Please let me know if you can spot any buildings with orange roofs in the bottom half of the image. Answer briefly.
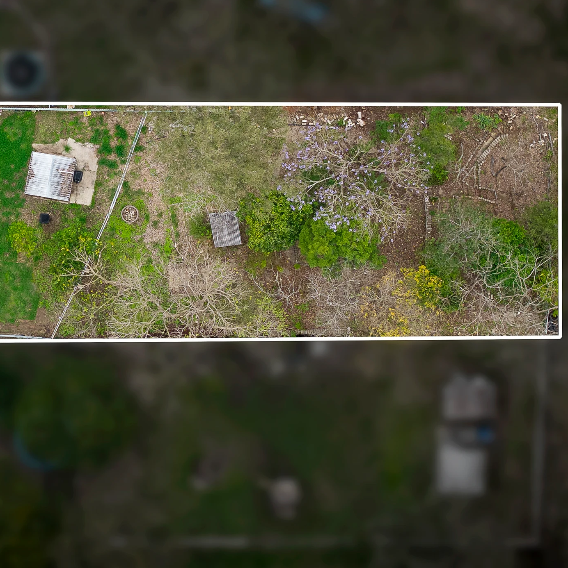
No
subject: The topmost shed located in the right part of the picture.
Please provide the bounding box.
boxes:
[438,379,497,422]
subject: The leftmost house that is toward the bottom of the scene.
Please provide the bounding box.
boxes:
[273,478,306,520]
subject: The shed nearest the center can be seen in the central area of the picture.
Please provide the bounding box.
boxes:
[206,211,241,247]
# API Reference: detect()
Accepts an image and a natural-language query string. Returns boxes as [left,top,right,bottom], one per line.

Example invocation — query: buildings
[206,211,241,247]
[430,443,485,496]
[25,151,76,201]
[273,478,306,520]
[438,379,497,422]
